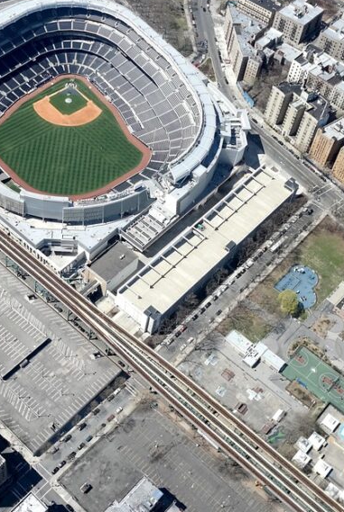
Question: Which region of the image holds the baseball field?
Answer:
top left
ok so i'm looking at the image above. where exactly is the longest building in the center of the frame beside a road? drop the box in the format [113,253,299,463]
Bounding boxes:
[116,163,298,334]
